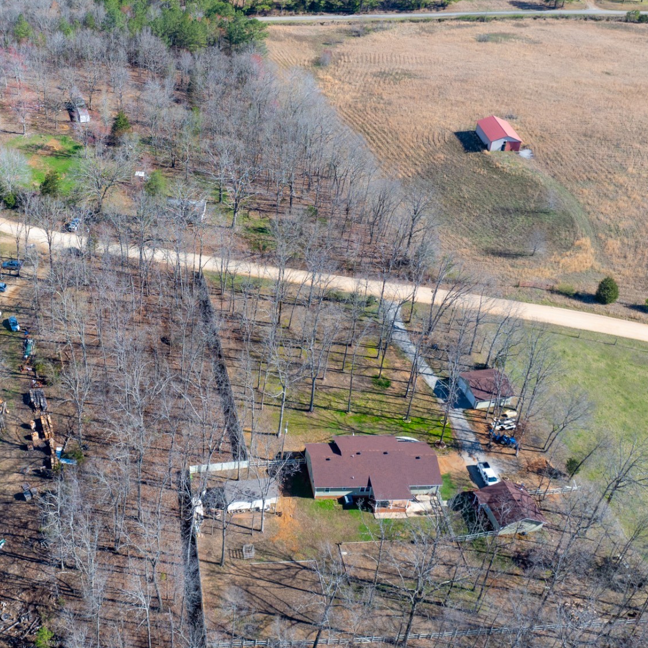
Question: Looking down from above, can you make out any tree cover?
Yes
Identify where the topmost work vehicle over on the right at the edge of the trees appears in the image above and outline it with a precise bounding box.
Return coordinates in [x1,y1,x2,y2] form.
[483,426,514,445]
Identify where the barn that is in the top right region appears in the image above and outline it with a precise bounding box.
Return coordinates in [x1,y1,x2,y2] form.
[472,116,523,151]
